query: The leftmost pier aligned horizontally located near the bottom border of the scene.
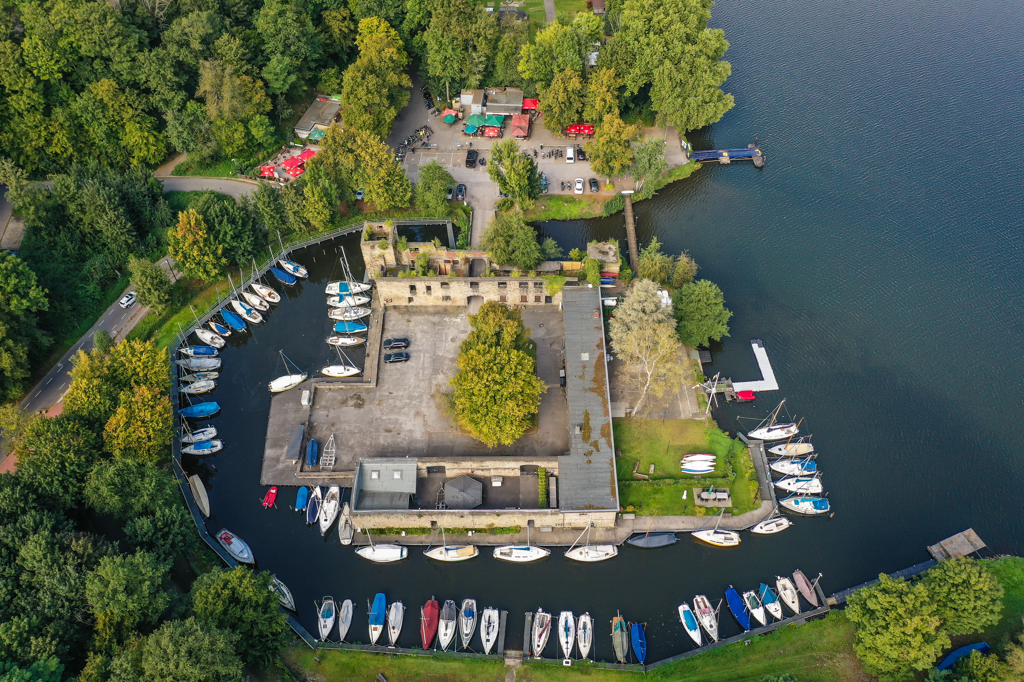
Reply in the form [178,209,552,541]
[317,640,503,659]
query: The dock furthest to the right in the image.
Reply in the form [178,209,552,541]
[824,554,936,606]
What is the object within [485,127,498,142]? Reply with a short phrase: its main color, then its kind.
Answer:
red umbrella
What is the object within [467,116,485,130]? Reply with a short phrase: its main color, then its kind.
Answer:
green umbrella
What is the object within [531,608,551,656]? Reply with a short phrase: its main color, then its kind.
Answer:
white boat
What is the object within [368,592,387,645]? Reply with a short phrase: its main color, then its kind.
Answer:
blue boat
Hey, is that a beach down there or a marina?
marina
